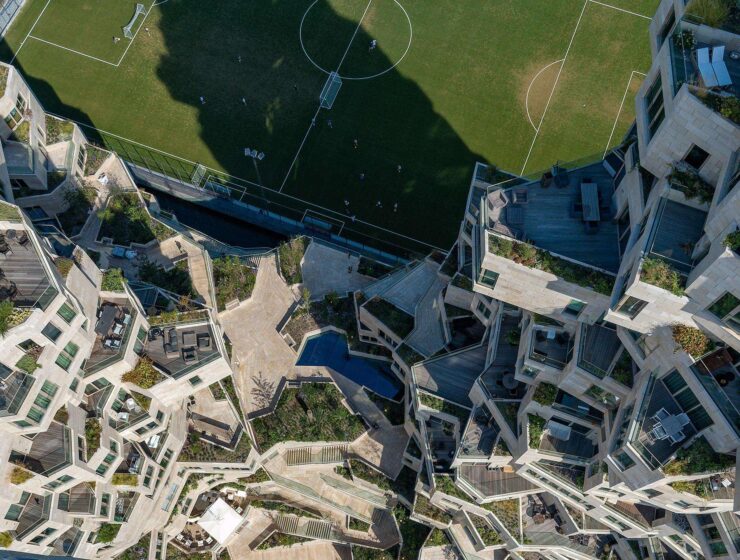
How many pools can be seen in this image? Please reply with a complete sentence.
The photo contains exactly 1 pool.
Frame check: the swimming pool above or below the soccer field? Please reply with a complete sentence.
As seen from overhead, the swimming pool falls below the soccer field in the picture.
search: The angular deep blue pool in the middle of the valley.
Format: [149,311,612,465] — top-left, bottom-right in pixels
[298,330,404,401]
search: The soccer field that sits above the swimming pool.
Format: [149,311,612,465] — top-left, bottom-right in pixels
[0,0,684,259]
